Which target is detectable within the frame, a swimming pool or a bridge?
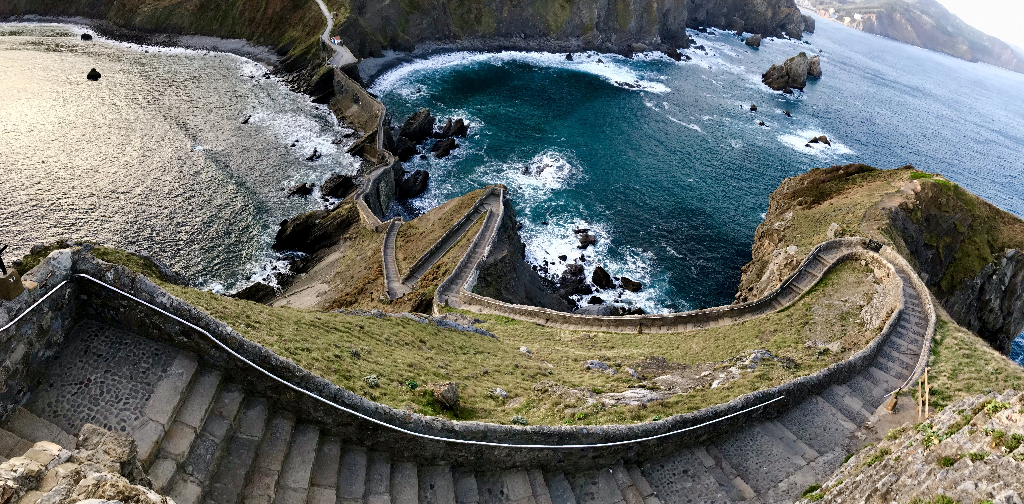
bridge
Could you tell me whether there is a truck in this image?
No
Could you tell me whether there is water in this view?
Yes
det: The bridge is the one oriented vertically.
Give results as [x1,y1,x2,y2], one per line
[337,65,398,227]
